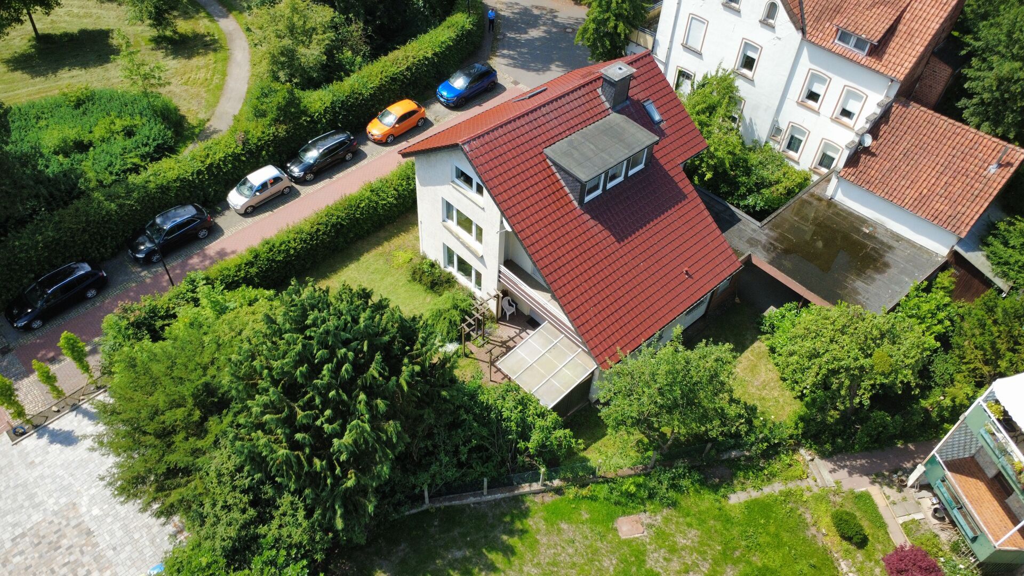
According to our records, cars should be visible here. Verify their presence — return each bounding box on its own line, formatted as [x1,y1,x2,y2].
[0,254,106,330]
[366,99,428,143]
[437,61,498,106]
[121,201,215,264]
[225,162,293,212]
[280,126,358,182]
